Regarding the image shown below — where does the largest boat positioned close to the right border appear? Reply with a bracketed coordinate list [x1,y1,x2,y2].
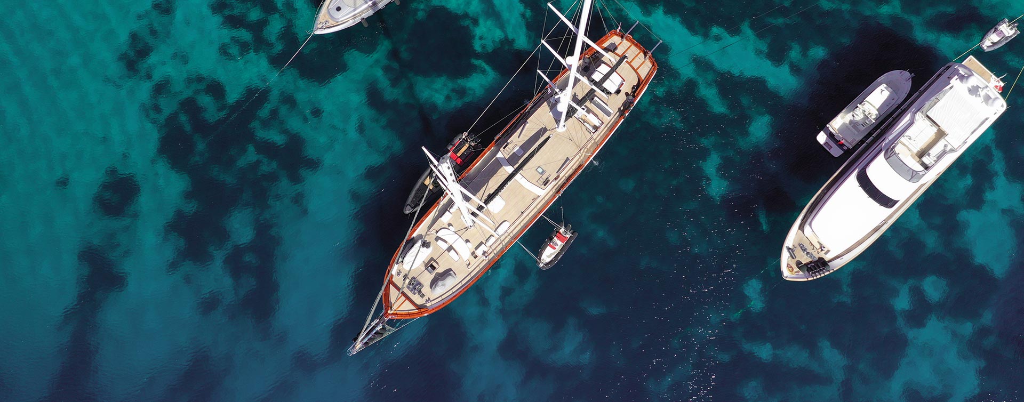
[779,56,1012,285]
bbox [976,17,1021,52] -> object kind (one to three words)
boat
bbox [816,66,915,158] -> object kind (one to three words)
boat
